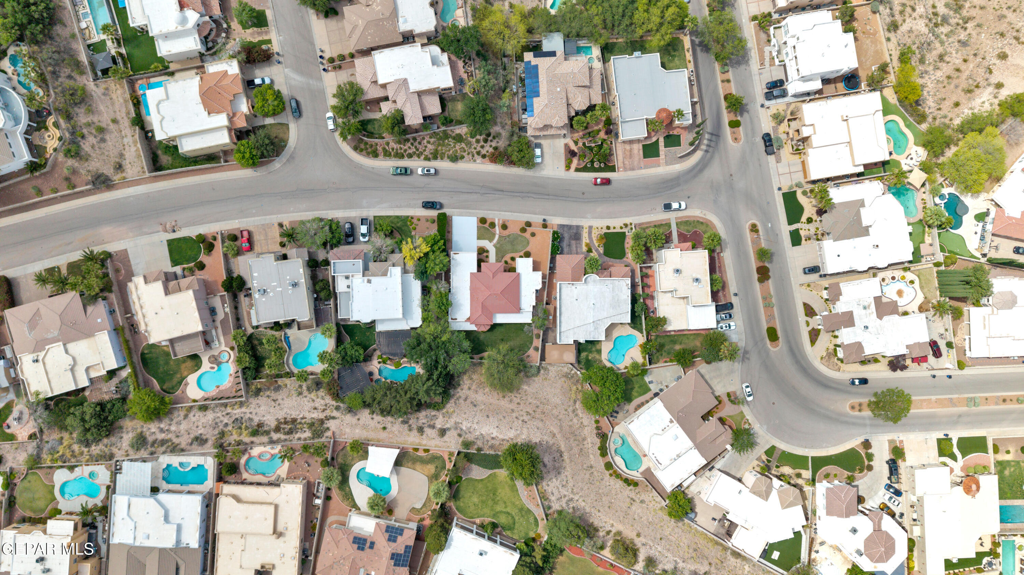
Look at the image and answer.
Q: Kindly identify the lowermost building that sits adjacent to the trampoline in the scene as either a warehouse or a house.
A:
house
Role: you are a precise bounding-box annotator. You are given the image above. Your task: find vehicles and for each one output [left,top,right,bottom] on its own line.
[715,302,735,313]
[534,141,543,164]
[662,202,685,210]
[290,98,301,118]
[929,338,945,361]
[802,265,817,274]
[592,178,610,185]
[392,167,410,175]
[742,383,753,401]
[849,378,868,386]
[360,219,369,241]
[716,312,734,321]
[326,112,337,131]
[1010,246,1024,255]
[857,496,867,505]
[764,88,784,100]
[717,322,736,330]
[765,79,781,89]
[884,483,903,498]
[763,134,775,157]
[239,229,251,252]
[883,493,901,508]
[418,167,436,175]
[423,201,441,209]
[888,460,899,483]
[247,77,270,87]
[879,502,896,519]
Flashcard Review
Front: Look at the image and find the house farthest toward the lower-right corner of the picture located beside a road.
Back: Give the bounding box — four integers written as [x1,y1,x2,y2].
[900,460,1000,575]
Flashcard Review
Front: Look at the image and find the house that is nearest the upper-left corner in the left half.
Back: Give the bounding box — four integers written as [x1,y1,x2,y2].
[0,84,43,174]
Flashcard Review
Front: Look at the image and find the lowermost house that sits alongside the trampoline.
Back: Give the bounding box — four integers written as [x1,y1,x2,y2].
[795,91,890,183]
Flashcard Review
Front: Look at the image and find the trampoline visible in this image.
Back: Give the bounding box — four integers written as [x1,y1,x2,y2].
[843,73,860,90]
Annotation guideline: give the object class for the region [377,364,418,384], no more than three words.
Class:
swimming pool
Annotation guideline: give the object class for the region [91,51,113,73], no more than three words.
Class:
gazebo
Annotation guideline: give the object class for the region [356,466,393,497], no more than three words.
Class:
swimming pool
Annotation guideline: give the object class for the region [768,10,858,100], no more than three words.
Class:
house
